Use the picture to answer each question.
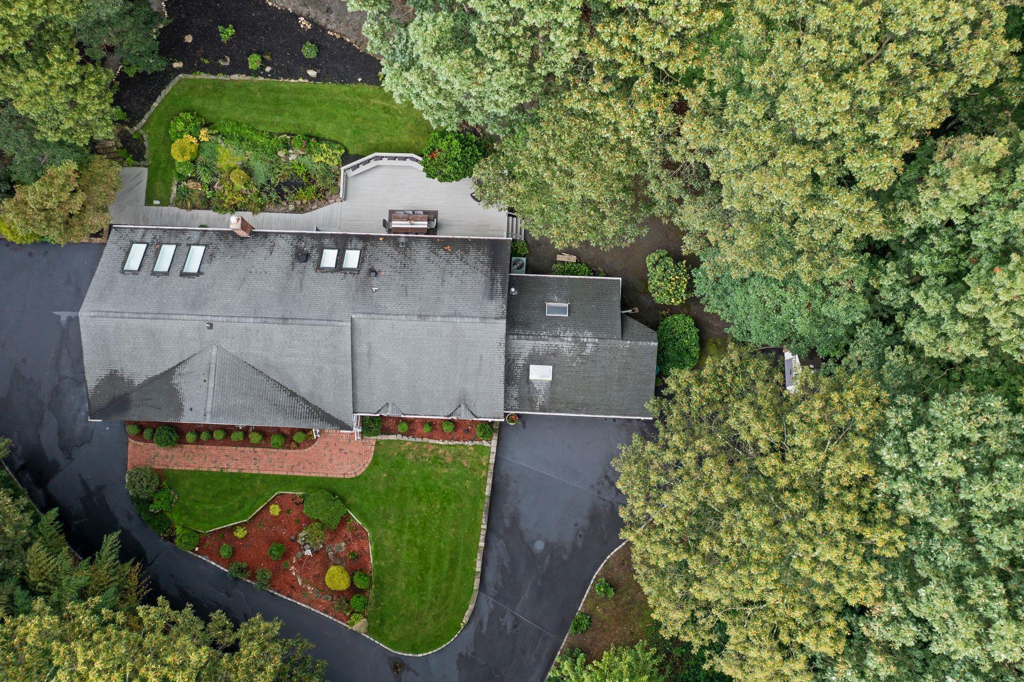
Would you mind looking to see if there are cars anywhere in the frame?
No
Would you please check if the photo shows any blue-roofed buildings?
No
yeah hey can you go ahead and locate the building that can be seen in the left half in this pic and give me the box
[79,215,658,432]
